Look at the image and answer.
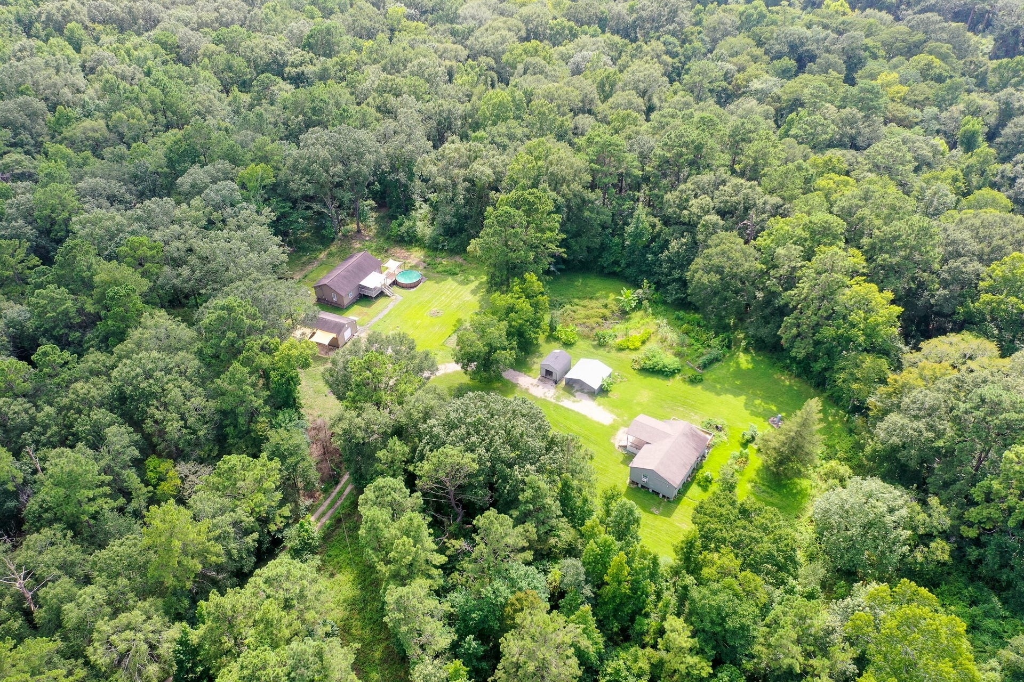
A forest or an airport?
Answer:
forest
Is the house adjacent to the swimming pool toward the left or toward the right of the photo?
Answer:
left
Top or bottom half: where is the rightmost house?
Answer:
bottom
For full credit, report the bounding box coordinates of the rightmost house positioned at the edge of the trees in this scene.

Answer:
[617,414,714,499]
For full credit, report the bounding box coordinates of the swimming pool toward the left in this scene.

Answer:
[396,270,422,289]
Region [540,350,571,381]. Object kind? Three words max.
shed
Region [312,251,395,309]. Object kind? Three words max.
house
